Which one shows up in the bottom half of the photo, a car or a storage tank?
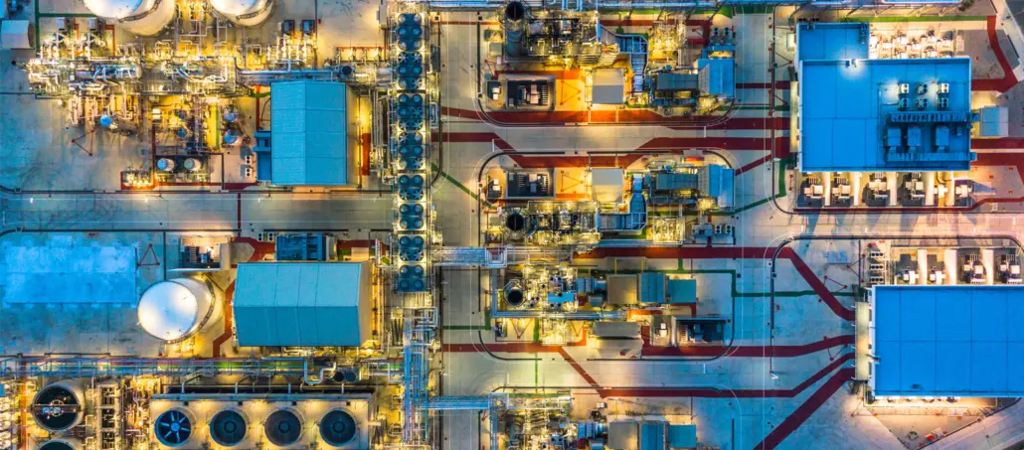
storage tank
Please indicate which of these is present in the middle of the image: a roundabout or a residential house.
residential house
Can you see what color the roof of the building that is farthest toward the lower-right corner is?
blue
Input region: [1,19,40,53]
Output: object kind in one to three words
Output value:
shed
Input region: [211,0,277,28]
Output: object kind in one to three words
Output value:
storage tank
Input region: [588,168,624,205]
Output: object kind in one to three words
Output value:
house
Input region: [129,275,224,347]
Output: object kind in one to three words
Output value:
storage tank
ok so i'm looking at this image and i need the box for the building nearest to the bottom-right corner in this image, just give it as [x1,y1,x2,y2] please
[861,282,1024,399]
